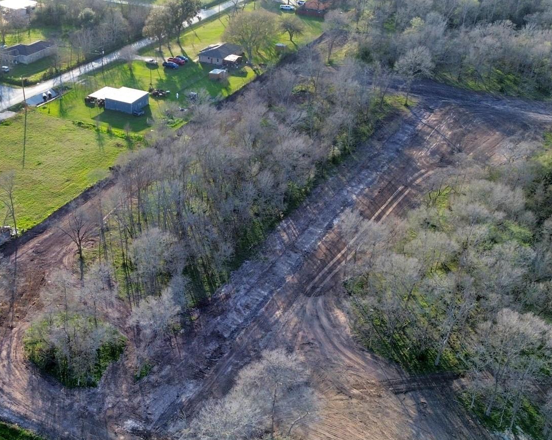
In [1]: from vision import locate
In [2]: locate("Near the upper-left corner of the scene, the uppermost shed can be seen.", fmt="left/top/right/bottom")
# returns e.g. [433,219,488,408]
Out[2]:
[0,0,38,17]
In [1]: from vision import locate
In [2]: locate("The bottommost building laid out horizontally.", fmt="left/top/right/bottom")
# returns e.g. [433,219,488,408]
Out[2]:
[91,86,151,114]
